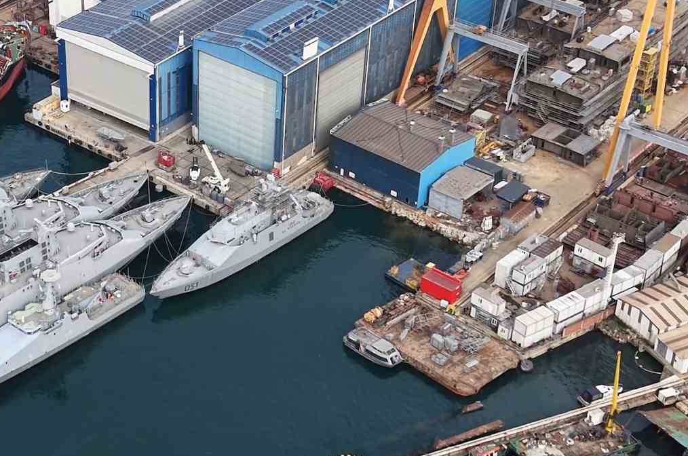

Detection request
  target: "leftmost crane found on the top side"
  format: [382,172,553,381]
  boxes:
[196,141,237,198]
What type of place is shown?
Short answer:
port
